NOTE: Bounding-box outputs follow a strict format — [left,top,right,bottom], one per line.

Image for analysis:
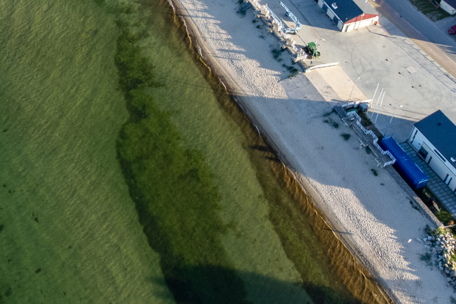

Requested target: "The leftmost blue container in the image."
[378,136,409,167]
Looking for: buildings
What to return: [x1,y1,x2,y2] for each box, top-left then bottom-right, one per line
[409,110,456,190]
[317,0,379,30]
[438,0,456,15]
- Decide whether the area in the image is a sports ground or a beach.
beach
